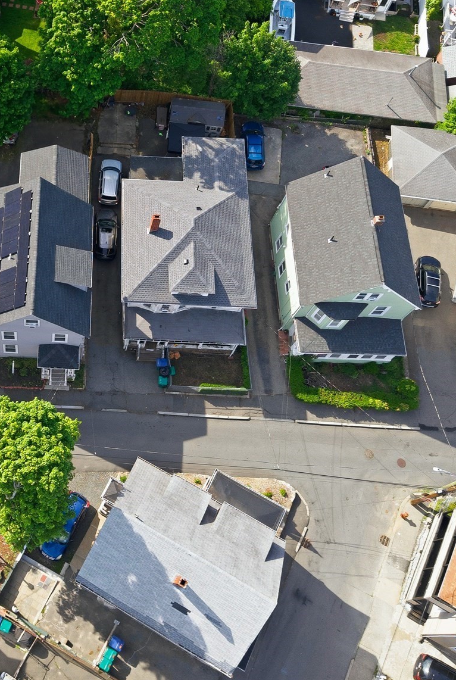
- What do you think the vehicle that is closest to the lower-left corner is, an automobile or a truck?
automobile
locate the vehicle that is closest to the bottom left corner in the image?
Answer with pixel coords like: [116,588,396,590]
[43,489,93,561]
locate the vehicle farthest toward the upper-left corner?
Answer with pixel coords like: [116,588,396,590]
[96,157,124,208]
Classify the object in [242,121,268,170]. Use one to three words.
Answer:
car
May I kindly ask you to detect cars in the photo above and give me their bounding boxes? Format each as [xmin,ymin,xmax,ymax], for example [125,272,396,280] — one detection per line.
[242,121,268,170]
[410,650,456,680]
[96,157,124,208]
[416,254,448,310]
[43,489,93,561]
[94,208,120,262]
